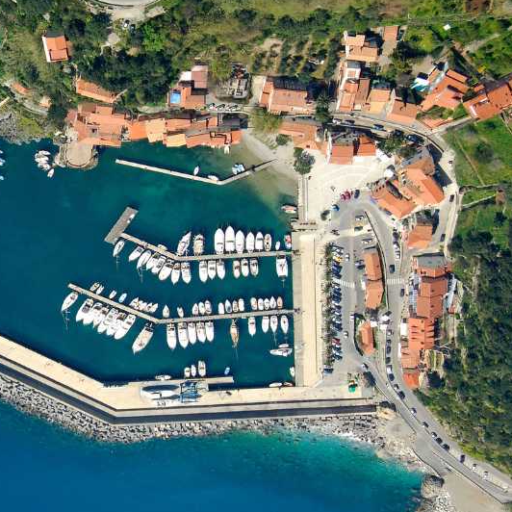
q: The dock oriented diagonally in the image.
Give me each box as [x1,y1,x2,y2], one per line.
[106,209,135,246]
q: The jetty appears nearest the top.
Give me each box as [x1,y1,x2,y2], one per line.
[115,159,264,184]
